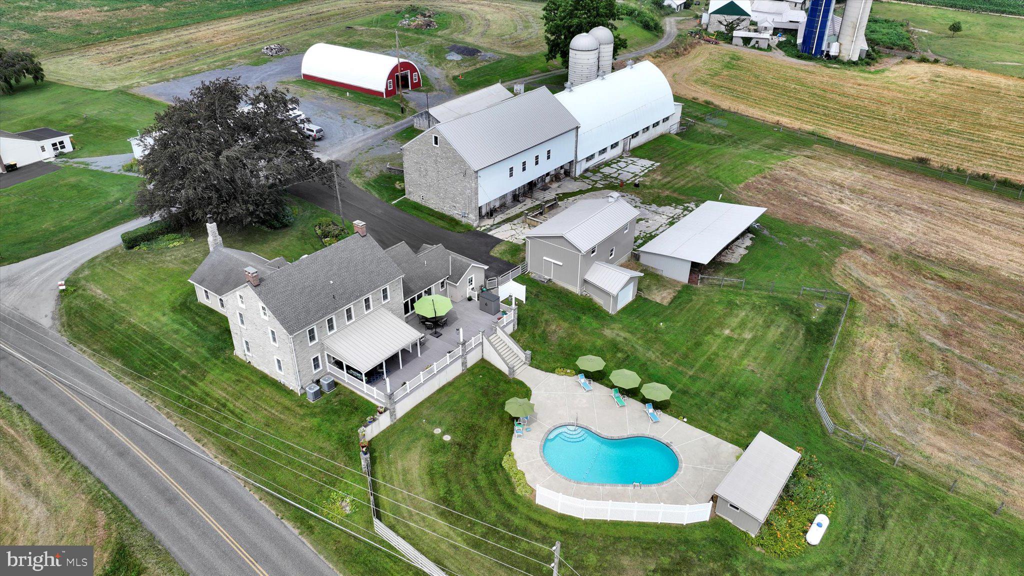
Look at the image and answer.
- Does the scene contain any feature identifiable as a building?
Yes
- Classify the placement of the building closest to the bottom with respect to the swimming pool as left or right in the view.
right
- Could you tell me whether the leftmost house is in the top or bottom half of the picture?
top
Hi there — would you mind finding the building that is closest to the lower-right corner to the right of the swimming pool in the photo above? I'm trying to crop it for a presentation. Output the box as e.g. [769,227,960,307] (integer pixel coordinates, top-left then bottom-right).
[714,433,804,536]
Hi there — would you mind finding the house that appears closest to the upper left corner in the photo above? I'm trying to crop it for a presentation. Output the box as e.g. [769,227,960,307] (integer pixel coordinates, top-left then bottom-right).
[0,112,73,174]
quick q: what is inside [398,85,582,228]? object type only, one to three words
barn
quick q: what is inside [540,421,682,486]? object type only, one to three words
swimming pool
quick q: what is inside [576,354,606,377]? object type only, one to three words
umbrella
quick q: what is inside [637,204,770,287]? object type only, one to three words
shed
